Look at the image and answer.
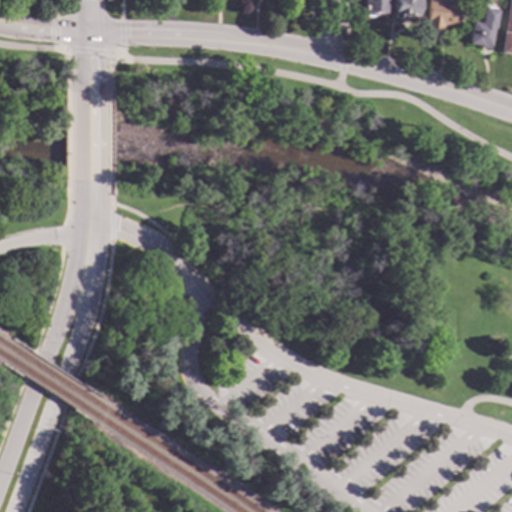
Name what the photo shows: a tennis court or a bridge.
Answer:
bridge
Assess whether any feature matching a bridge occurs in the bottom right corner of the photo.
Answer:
No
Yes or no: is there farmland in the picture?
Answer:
No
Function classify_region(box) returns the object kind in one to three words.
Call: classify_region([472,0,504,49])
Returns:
house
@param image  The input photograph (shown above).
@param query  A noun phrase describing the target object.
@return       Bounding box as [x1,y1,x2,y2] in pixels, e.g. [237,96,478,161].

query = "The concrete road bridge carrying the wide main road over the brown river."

[67,102,118,194]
